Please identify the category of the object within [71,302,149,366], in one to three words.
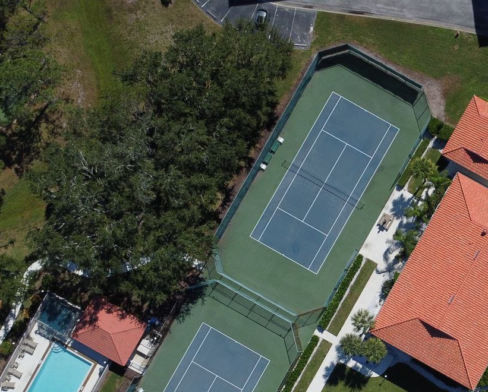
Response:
building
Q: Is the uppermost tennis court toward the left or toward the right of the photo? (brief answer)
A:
right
